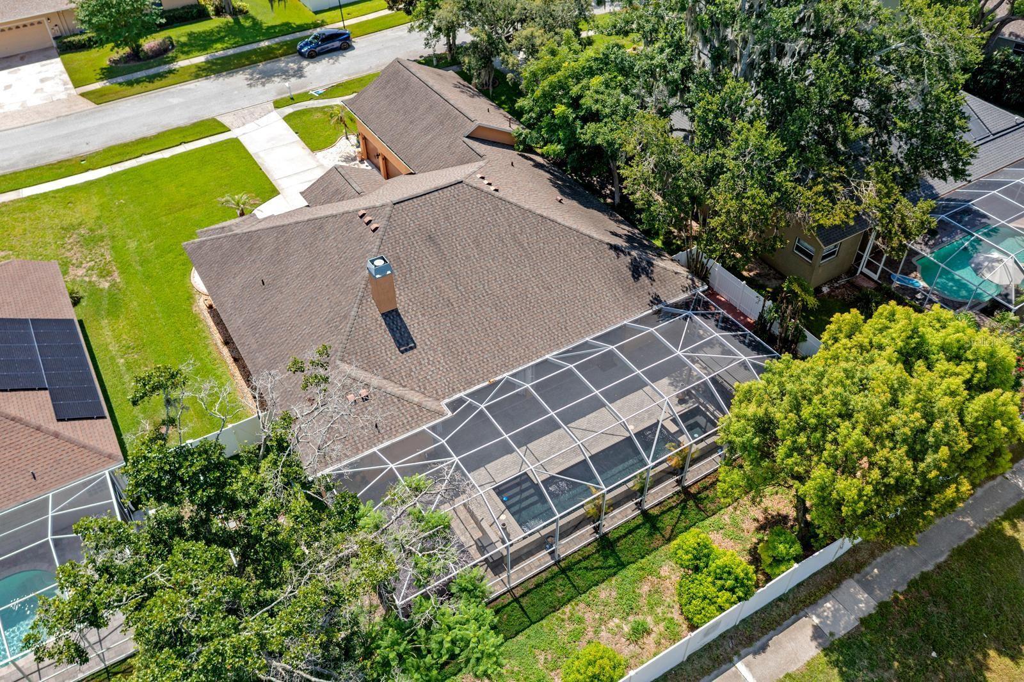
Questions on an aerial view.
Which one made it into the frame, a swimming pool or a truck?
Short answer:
swimming pool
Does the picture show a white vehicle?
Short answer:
No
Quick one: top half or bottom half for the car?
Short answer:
top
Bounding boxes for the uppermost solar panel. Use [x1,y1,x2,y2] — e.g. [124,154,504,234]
[937,106,982,141]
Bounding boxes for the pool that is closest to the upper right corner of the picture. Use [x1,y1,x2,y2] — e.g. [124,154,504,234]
[887,204,1024,314]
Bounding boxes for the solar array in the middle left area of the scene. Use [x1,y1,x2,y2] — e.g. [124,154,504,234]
[0,317,105,421]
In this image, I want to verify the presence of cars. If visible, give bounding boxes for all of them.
[293,26,354,59]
